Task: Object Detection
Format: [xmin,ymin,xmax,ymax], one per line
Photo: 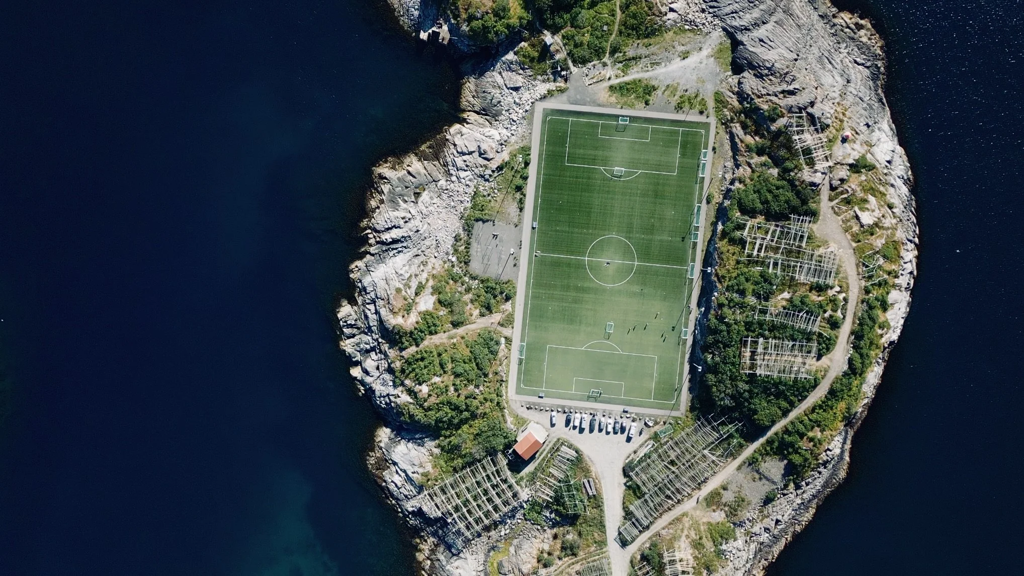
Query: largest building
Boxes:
[514,431,543,460]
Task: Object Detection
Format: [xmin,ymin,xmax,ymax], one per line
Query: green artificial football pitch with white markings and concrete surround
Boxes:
[510,102,715,416]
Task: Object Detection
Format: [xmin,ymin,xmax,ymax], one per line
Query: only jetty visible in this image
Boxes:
[420,24,450,45]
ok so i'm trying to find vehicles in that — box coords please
[566,413,572,424]
[551,412,557,424]
[607,419,613,432]
[581,414,588,428]
[630,423,636,437]
[590,418,596,430]
[599,418,605,429]
[621,420,626,430]
[574,413,580,426]
[613,420,619,432]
